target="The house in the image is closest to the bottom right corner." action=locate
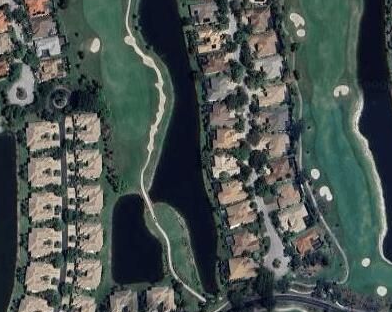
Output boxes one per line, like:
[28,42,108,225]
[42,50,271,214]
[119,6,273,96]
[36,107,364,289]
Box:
[291,229,323,256]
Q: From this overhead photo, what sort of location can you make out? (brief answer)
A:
residential area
